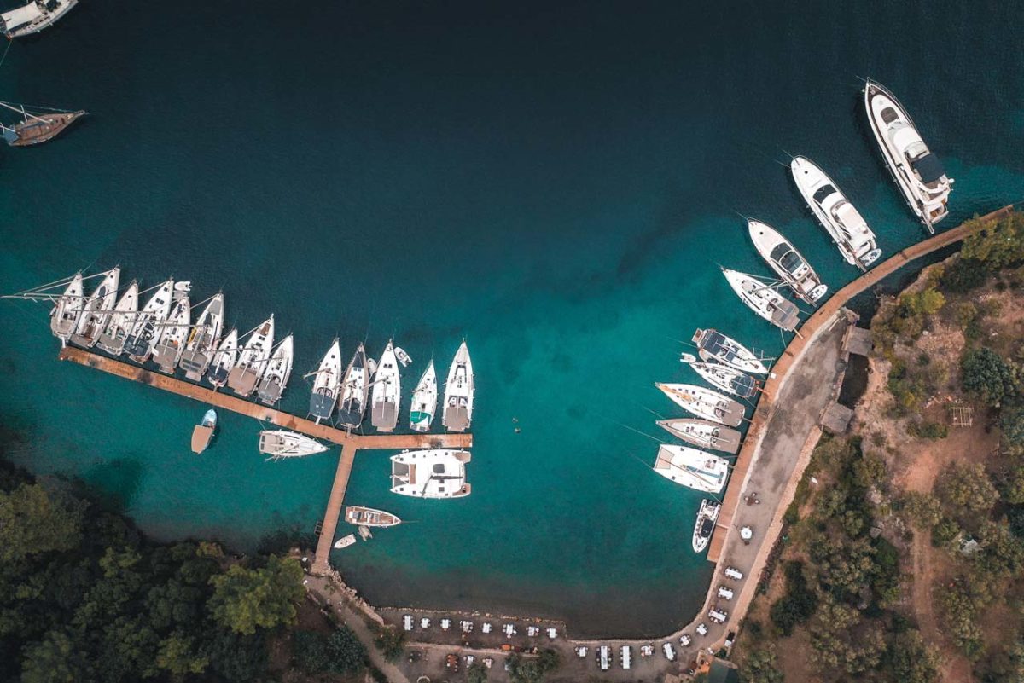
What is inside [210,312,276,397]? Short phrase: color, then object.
white boat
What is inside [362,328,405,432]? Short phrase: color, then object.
white boat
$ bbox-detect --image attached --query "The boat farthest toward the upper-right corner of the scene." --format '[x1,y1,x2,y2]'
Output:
[857,75,961,234]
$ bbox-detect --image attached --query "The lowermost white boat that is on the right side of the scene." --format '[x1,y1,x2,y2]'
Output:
[695,500,719,554]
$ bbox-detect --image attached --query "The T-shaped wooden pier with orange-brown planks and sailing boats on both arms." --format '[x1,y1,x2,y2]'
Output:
[59,346,472,575]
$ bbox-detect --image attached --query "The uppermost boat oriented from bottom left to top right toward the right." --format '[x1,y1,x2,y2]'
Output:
[860,249,883,265]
